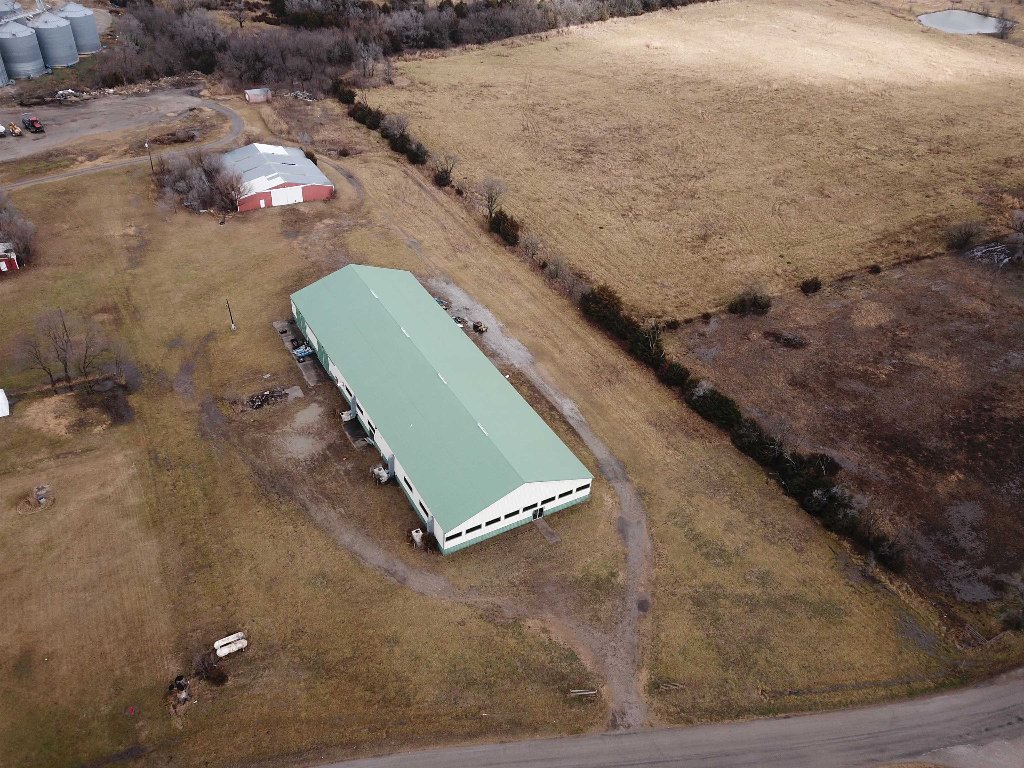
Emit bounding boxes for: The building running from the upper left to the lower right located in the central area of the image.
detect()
[288,263,595,556]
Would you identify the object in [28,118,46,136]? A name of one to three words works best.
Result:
work vehicle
